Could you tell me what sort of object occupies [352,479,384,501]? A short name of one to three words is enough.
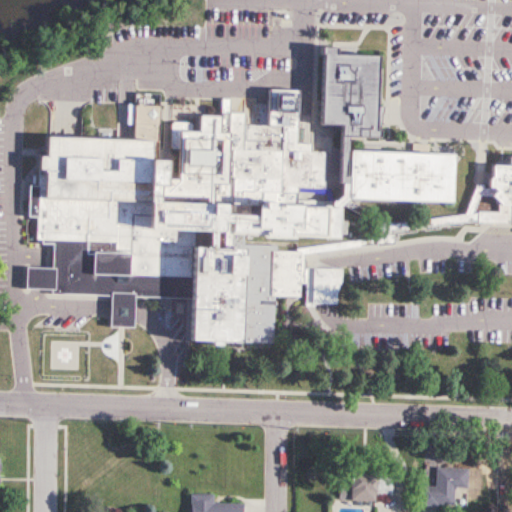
house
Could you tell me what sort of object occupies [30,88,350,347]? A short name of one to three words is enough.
building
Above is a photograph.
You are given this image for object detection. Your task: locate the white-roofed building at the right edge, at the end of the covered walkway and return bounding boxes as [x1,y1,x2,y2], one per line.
[476,157,512,226]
